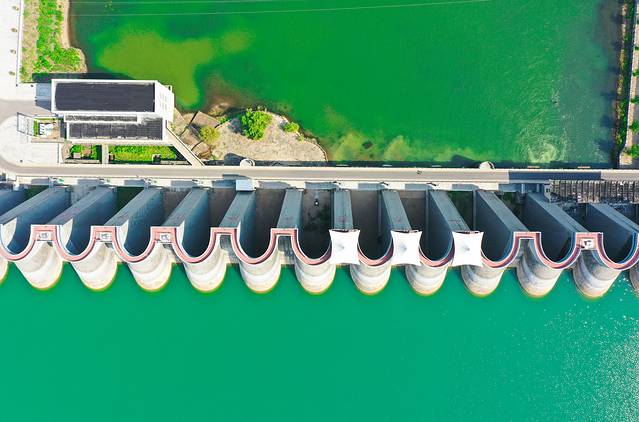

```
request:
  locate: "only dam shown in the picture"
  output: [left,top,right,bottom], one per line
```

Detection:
[0,185,639,297]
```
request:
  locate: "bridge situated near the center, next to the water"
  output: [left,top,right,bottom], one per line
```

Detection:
[56,156,639,185]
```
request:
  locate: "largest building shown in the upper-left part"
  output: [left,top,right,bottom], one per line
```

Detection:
[52,80,173,140]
